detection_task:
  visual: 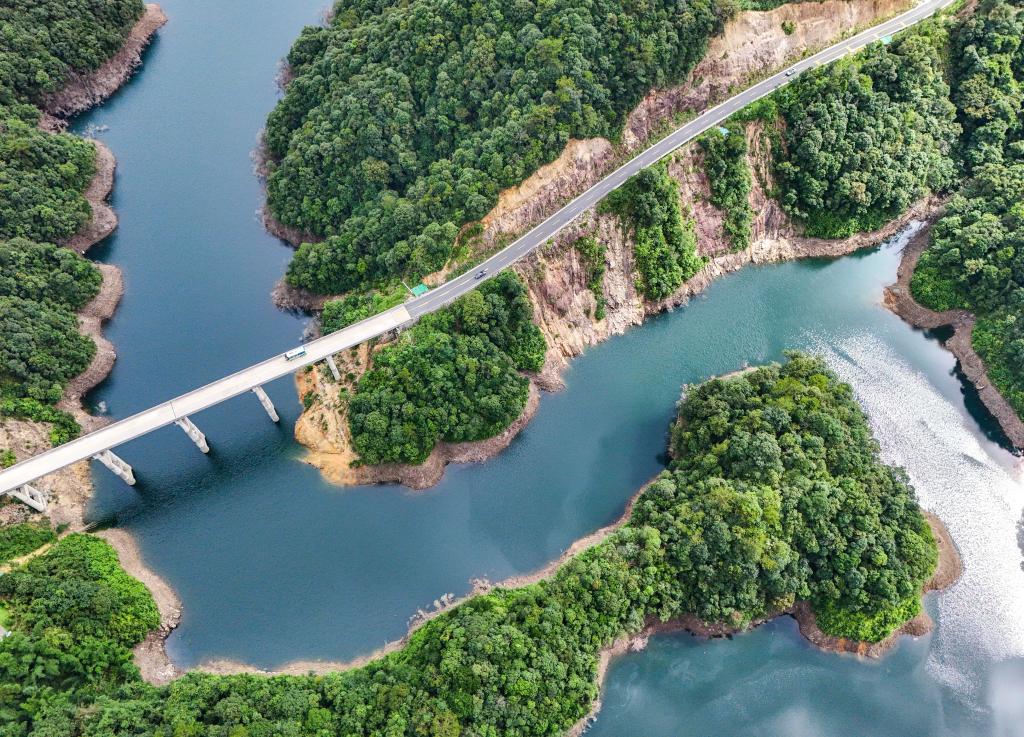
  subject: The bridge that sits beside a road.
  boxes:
[0,302,413,516]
